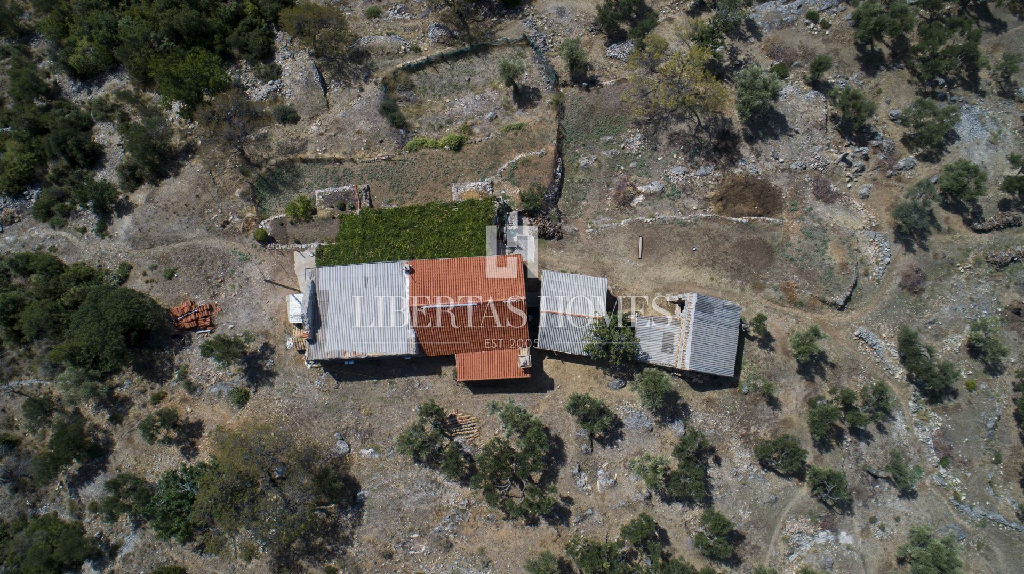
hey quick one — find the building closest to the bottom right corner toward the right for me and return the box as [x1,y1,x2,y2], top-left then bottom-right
[628,293,742,377]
